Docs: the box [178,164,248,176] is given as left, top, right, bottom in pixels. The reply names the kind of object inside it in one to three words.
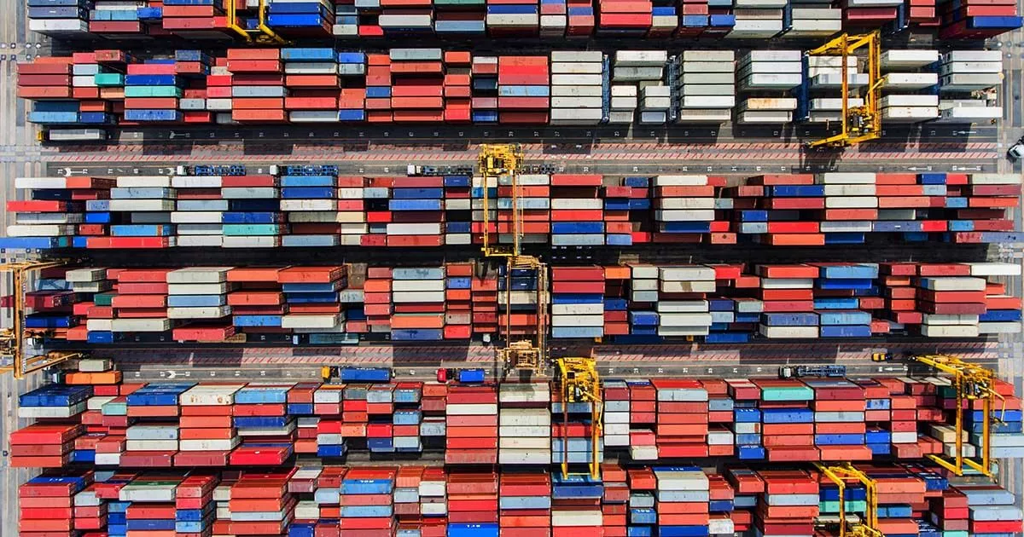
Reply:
vehicle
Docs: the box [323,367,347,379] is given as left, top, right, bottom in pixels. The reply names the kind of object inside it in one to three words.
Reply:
vehicle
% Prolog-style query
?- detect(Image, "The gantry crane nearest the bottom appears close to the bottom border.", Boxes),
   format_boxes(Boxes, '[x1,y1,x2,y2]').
[809,459,882,537]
